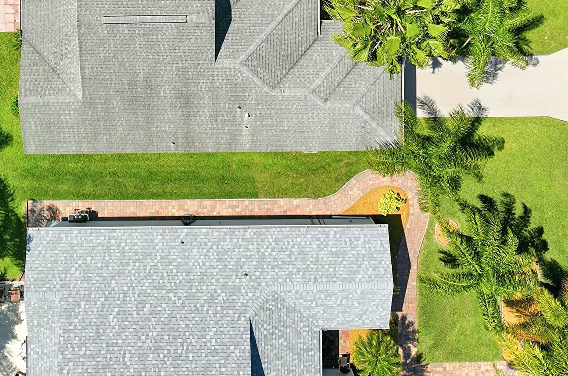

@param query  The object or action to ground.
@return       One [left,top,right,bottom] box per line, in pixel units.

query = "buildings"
[16,0,406,153]
[23,220,393,376]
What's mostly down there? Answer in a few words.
buildings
